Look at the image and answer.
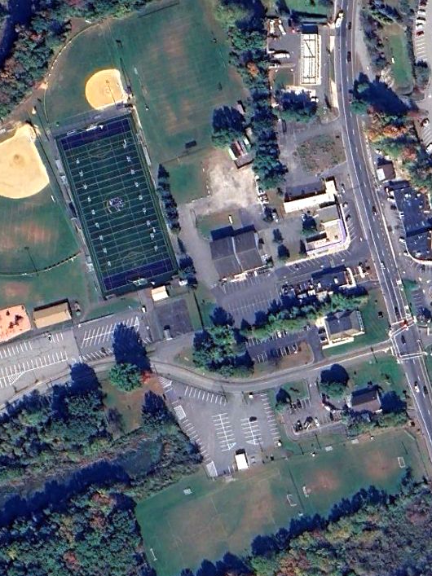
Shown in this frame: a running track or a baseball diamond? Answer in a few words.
baseball diamond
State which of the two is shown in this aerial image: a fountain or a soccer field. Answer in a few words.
soccer field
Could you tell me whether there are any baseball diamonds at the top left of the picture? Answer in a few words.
Yes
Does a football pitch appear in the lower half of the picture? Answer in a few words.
Yes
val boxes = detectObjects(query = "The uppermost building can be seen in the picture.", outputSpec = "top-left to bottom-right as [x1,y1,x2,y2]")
[300,33,321,86]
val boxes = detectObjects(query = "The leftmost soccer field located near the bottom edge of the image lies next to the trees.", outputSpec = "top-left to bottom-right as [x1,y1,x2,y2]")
[135,461,300,576]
